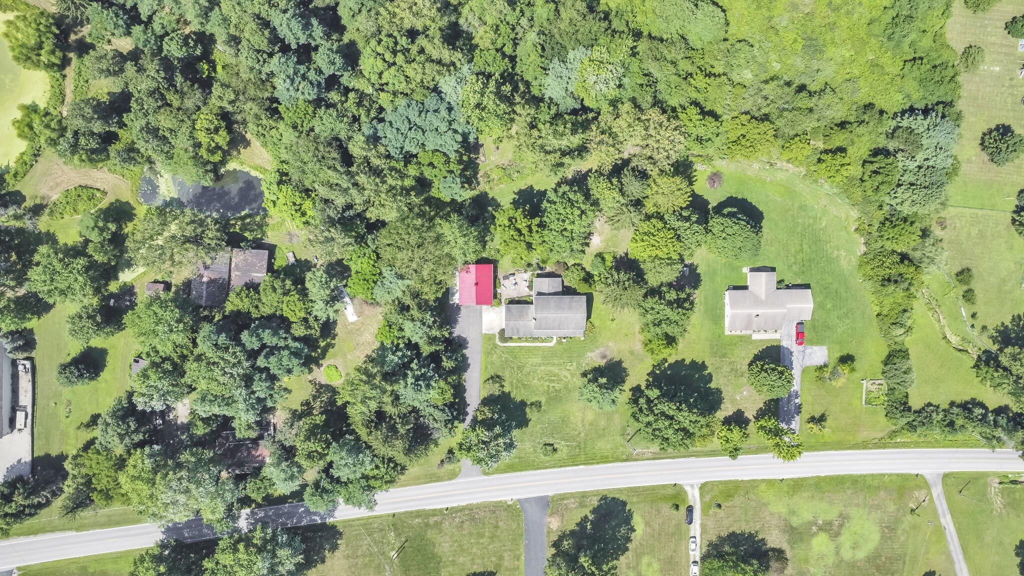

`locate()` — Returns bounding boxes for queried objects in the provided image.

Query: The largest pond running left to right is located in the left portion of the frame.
[139,162,266,226]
